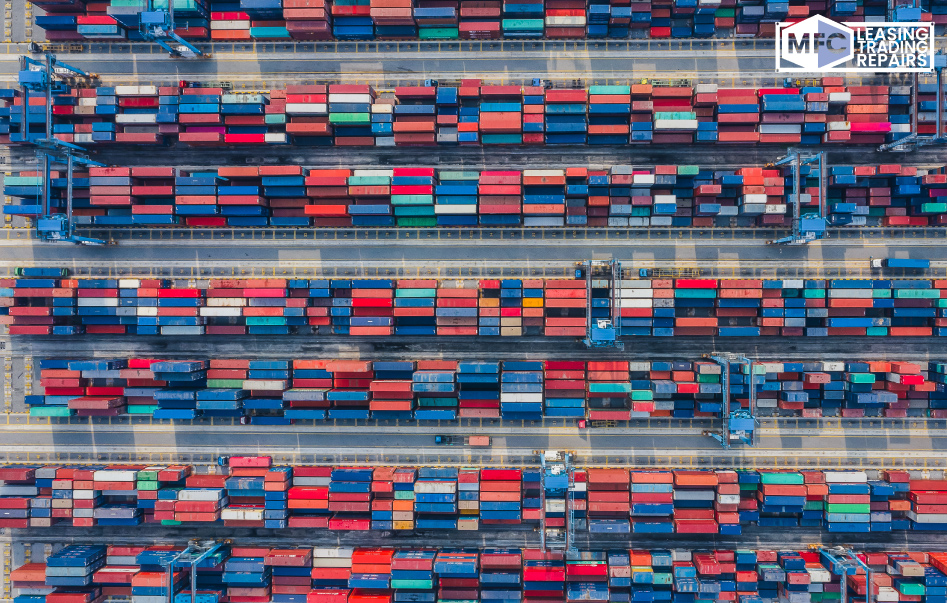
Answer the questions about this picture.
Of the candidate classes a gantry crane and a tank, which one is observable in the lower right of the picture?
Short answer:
gantry crane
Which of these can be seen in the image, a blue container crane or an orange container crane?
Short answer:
blue container crane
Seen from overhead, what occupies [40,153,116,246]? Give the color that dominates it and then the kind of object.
blue container crane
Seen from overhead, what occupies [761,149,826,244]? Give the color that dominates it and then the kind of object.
blue container crane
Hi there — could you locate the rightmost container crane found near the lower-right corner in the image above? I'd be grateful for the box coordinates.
[805,543,873,603]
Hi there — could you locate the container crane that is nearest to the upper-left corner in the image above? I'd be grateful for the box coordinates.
[19,55,96,156]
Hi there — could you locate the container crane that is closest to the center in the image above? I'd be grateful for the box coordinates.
[571,257,621,348]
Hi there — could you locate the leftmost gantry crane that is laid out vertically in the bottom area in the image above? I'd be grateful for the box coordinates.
[529,449,575,553]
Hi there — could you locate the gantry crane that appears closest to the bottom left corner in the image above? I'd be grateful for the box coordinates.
[162,538,229,603]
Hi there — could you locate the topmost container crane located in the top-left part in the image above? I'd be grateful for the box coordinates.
[144,0,210,59]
